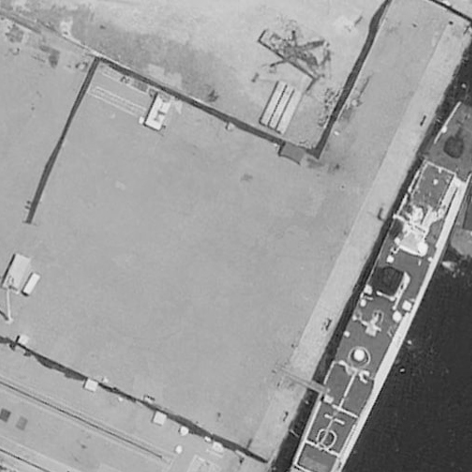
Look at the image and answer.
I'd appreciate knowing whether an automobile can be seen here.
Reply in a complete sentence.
No, I can see no automobile in this picture.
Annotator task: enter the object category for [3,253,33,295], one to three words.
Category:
building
